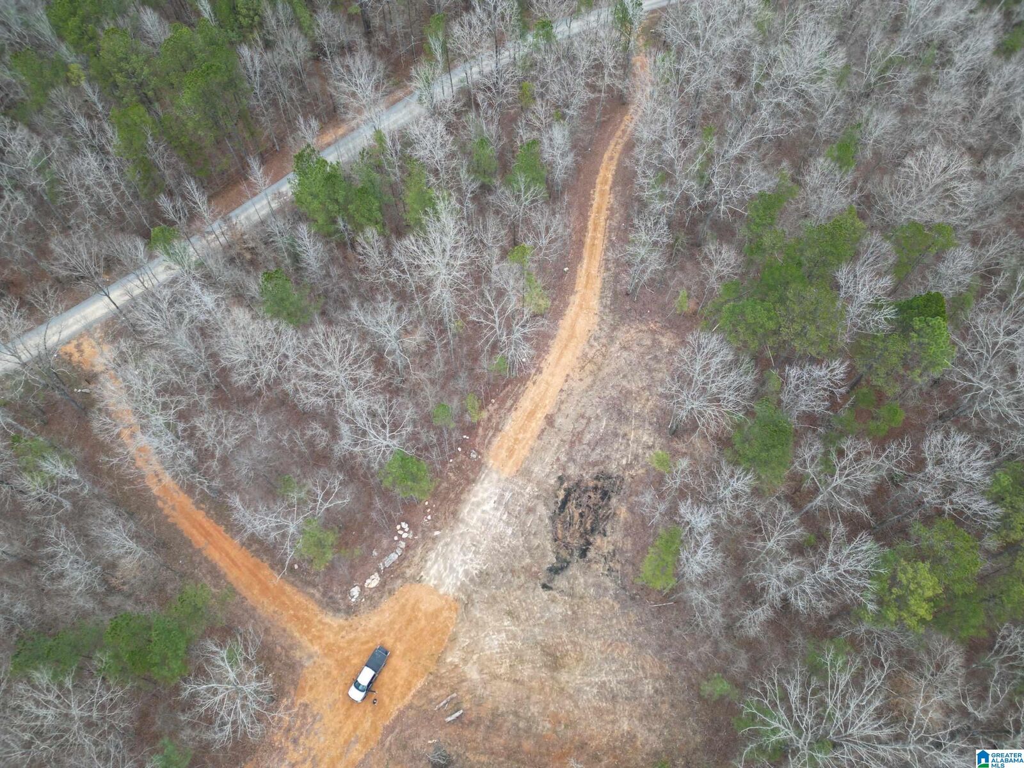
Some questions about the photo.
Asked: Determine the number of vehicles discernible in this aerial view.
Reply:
1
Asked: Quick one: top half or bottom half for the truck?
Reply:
bottom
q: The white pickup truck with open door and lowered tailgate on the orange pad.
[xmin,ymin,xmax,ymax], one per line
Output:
[348,644,391,704]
